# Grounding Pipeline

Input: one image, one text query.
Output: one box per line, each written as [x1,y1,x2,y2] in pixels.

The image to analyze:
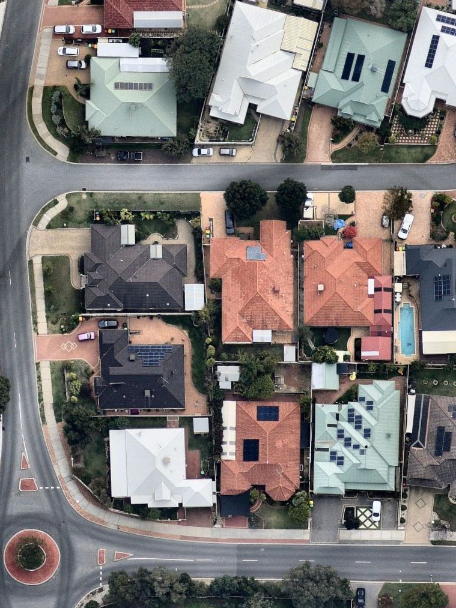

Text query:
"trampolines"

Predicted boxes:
[327,327,342,345]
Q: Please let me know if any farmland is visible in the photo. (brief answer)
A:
No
